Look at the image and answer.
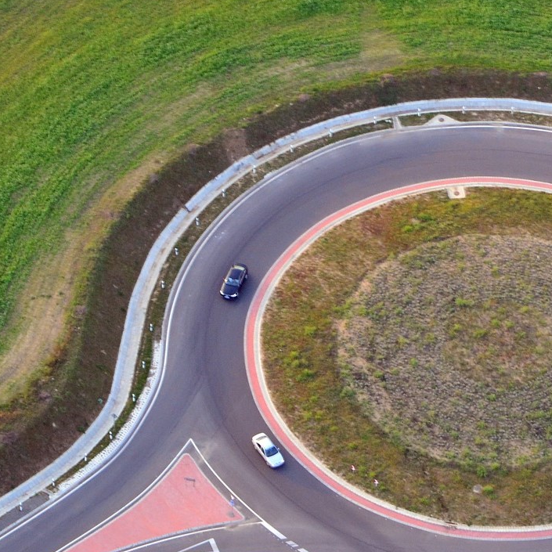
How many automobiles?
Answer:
two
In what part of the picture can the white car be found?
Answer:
bottom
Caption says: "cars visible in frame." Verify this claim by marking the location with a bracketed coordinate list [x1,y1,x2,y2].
[251,432,285,467]
[220,264,247,295]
